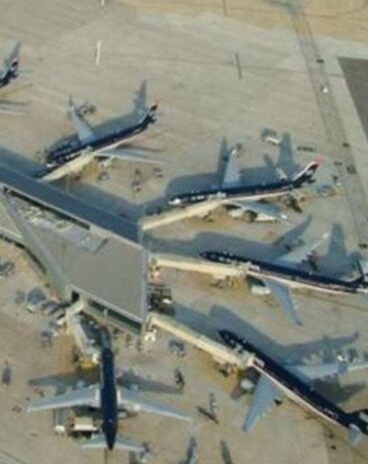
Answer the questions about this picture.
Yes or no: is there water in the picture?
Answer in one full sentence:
No, the scene doesn't show any water.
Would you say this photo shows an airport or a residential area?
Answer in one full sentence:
The area seen from above is an airport.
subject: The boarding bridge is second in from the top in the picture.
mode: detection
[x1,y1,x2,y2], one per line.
[136,188,232,234]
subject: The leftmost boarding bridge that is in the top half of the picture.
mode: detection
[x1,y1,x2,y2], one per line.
[37,143,94,188]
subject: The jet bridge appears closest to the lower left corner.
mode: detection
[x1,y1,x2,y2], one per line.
[63,296,111,365]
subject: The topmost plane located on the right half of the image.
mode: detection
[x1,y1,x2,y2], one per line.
[169,150,324,225]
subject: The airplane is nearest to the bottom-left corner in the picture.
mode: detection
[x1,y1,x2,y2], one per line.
[26,347,193,452]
